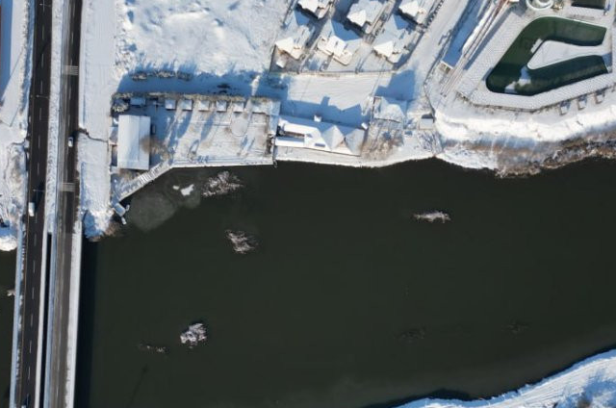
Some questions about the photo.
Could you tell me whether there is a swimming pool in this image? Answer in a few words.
Yes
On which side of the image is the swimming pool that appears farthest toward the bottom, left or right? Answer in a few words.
right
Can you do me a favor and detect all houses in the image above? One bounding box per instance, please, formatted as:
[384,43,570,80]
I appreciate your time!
[375,97,406,122]
[275,116,368,157]
[347,0,386,37]
[318,19,362,68]
[117,114,152,170]
[399,0,434,27]
[299,0,332,23]
[276,9,314,63]
[373,14,412,66]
